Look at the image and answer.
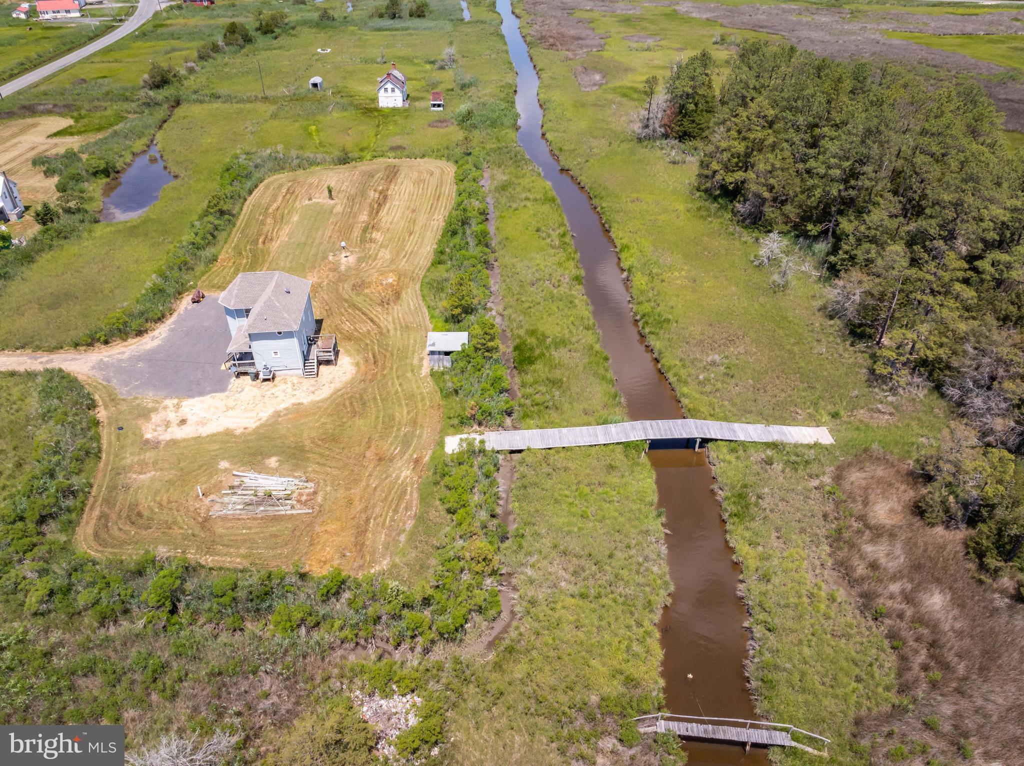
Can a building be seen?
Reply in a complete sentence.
Yes, the frame does contain a building.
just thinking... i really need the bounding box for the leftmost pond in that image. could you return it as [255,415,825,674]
[98,143,175,221]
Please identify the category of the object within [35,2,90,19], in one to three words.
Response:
house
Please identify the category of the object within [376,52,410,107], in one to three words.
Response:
house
